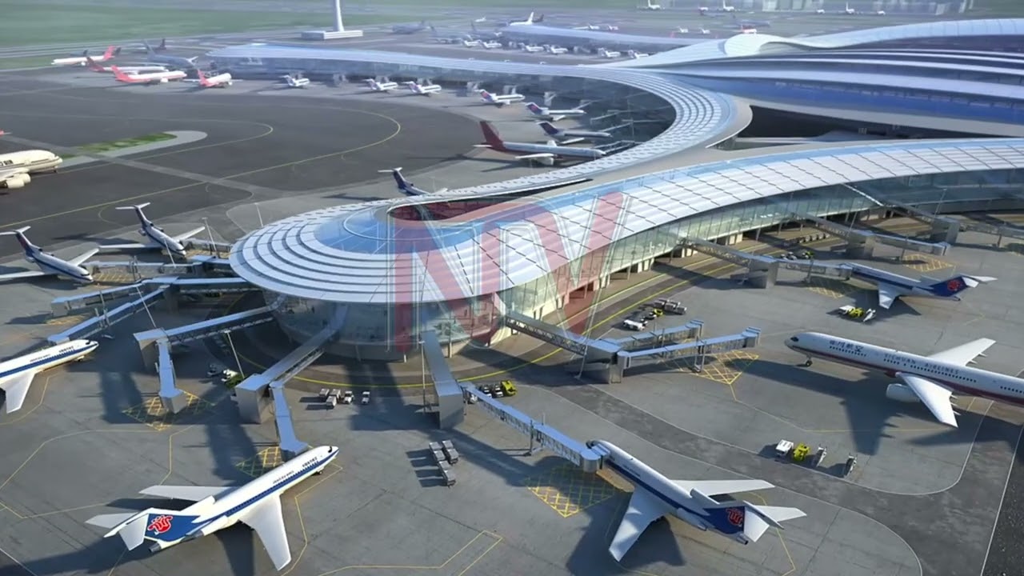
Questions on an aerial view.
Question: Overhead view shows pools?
No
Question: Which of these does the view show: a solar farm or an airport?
airport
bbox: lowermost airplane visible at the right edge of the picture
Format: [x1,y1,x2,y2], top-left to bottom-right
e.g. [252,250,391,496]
[785,334,1024,427]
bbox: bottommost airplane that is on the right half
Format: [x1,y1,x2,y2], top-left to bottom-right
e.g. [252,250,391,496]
[588,441,805,560]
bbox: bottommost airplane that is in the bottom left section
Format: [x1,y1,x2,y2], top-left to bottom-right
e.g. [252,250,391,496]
[86,446,337,568]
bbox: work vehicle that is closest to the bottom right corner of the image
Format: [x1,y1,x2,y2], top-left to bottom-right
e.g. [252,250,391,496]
[843,449,860,475]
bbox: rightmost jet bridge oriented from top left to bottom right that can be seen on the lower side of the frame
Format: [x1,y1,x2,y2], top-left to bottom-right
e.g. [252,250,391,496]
[419,326,608,483]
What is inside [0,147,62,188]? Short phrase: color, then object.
white airplane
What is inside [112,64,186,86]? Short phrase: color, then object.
white airplane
